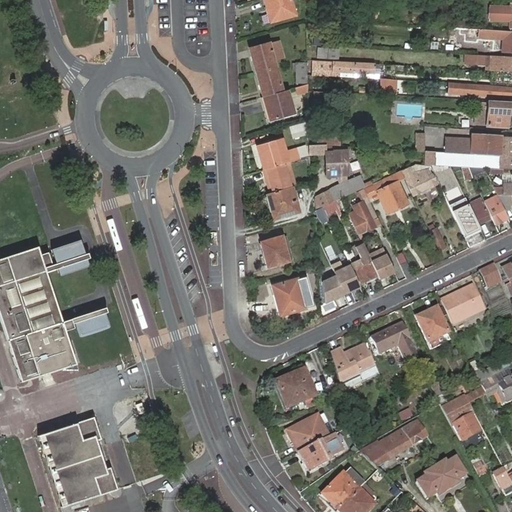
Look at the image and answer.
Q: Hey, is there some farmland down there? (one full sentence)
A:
No, there's no farmland in this view.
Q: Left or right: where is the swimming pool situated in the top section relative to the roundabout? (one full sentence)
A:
It is on the right side of the roundabout that the swimming pool situated in the top section is positioned.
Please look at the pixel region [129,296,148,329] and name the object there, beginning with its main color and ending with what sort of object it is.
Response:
white vehicle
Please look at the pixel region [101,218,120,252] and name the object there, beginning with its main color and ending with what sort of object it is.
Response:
white vehicle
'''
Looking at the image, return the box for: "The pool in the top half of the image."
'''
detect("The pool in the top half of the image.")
[391,102,425,124]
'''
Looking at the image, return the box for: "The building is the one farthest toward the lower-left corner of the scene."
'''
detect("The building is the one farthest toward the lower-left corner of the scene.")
[40,416,118,511]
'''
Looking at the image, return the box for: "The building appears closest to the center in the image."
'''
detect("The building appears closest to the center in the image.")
[260,235,292,270]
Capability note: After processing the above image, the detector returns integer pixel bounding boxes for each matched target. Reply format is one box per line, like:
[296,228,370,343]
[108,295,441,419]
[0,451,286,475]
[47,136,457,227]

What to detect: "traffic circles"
[76,58,194,176]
